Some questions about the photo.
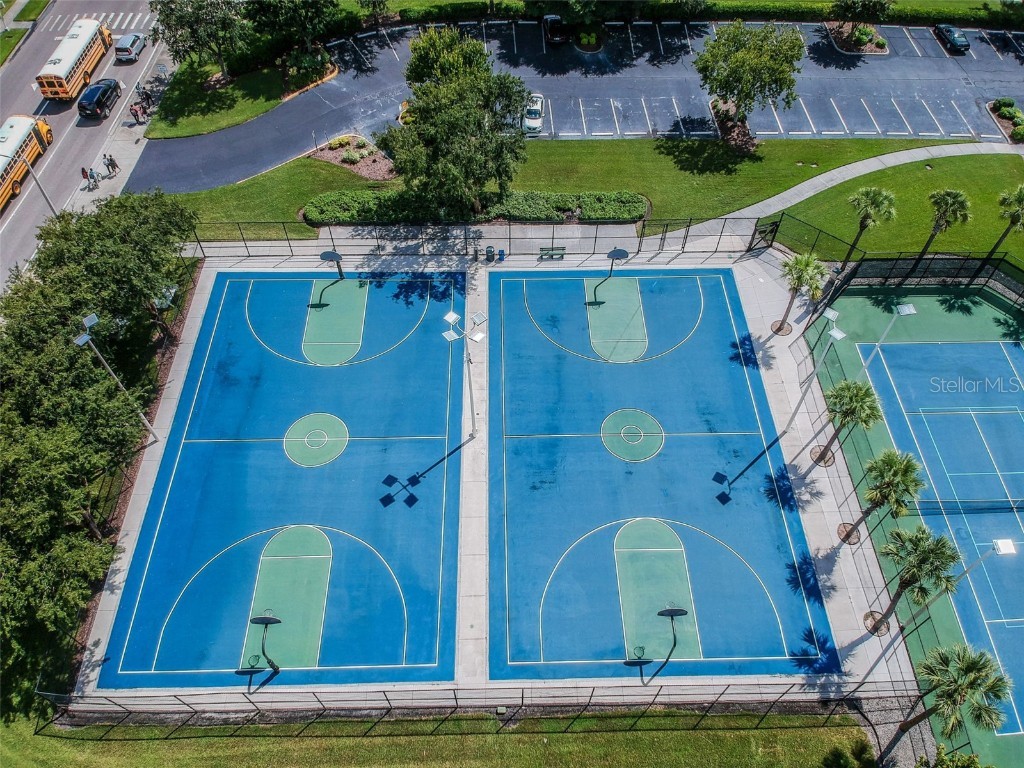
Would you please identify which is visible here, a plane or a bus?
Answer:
bus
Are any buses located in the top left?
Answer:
Yes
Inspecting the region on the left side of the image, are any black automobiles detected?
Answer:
Yes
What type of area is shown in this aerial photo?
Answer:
sports ground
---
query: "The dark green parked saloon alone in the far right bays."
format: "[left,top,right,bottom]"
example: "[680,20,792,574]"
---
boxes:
[937,22,974,52]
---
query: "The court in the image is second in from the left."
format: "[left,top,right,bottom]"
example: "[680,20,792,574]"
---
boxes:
[488,269,843,680]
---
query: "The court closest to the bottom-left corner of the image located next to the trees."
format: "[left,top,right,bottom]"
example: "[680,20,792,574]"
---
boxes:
[92,271,465,690]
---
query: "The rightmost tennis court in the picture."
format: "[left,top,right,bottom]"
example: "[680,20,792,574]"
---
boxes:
[804,286,1024,768]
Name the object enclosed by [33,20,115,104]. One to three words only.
bus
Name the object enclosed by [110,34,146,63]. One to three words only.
car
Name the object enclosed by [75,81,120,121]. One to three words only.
car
